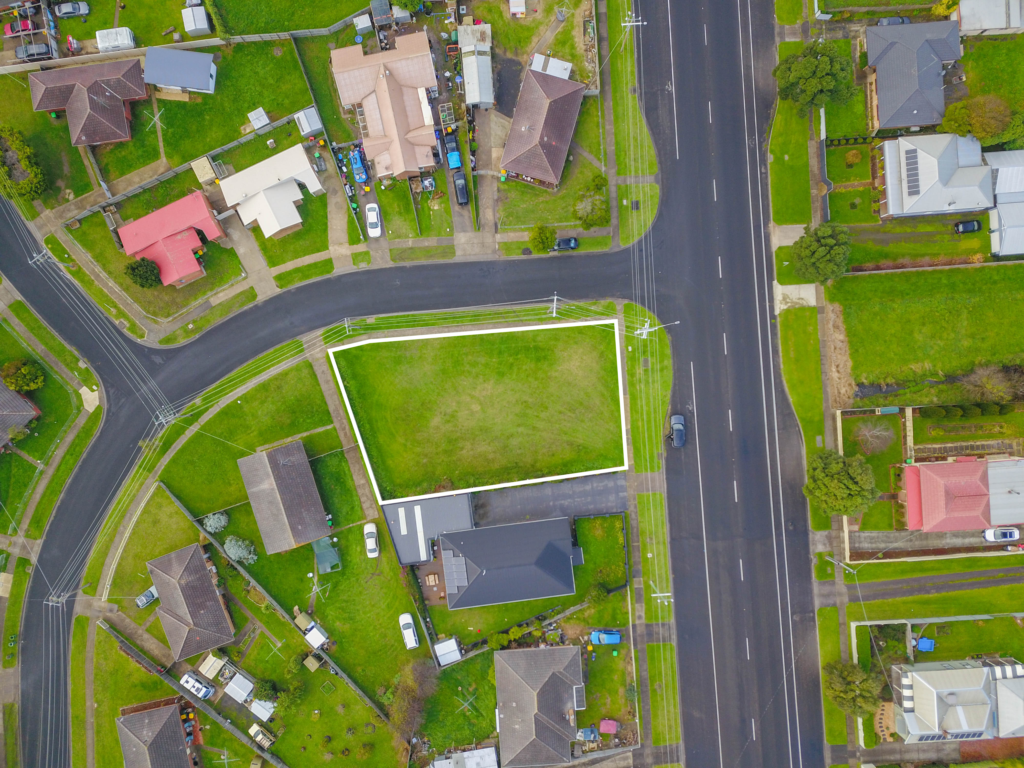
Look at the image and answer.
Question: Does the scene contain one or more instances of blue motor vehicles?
Yes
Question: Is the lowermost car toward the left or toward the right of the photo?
left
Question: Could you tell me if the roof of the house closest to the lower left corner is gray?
Yes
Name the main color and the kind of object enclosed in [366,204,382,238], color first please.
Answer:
white car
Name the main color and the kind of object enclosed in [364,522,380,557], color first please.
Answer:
white car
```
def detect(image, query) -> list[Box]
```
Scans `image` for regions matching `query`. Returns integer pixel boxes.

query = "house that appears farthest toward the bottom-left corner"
[115,701,196,768]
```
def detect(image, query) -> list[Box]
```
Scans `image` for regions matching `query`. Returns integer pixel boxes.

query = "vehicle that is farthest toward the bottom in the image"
[249,721,279,750]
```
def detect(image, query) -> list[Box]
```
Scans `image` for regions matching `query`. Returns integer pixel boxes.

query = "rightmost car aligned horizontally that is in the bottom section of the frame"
[981,526,1020,542]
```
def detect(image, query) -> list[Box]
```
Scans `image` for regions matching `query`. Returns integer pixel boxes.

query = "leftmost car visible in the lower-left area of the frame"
[133,585,157,609]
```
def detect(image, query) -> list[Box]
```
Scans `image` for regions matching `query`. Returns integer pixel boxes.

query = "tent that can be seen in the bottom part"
[311,533,344,574]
